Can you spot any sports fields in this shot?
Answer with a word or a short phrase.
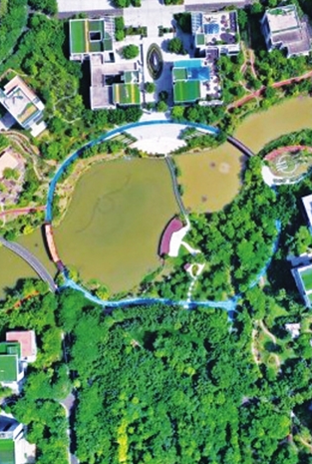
No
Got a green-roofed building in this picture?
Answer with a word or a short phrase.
Yes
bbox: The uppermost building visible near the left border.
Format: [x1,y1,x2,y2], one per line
[0,76,48,138]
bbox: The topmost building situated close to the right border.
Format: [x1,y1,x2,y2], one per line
[261,4,312,61]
